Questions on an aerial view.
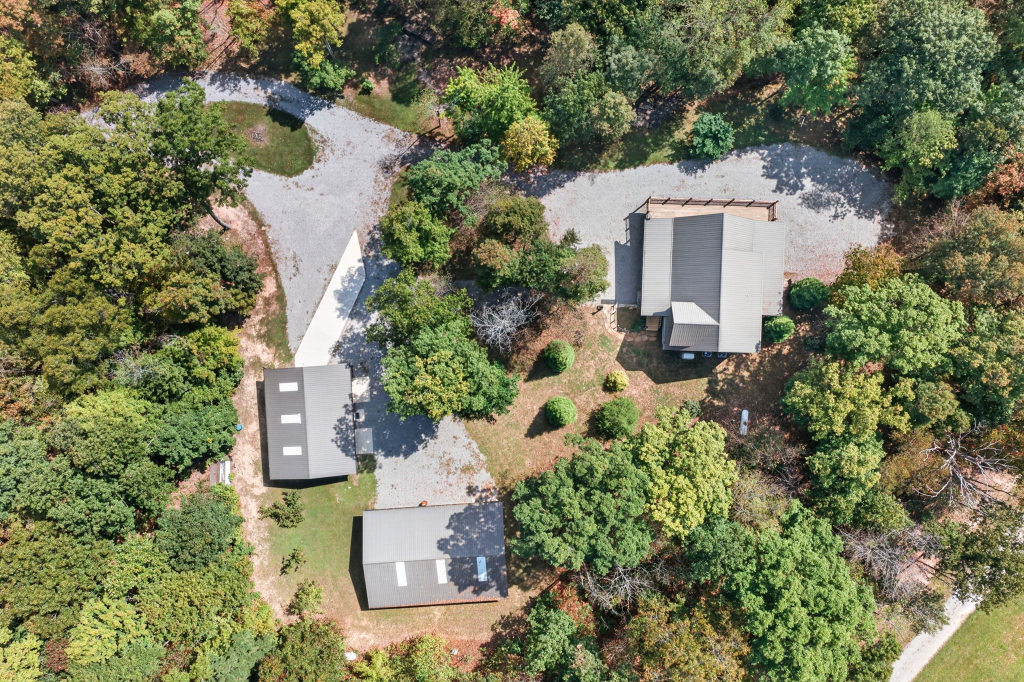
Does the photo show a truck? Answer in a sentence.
No, no truck is visible in the view.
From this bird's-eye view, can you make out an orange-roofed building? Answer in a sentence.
No, the frame has no orange-roofed building in it.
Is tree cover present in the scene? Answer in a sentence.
Yes, there is tree cover in the image.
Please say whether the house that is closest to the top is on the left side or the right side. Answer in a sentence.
The house that is closest to the top is on the right side of the image.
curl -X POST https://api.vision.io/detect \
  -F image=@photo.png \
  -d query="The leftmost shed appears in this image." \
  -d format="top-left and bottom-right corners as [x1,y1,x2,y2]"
[262,364,361,480]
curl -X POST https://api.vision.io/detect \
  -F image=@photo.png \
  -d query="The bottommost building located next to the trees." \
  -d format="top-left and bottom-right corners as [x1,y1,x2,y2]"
[362,498,508,610]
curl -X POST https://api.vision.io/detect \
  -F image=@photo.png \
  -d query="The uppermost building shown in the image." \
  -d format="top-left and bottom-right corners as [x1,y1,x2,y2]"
[637,196,785,353]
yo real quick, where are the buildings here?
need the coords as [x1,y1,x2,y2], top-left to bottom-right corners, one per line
[637,196,785,353]
[362,498,508,610]
[262,364,361,480]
